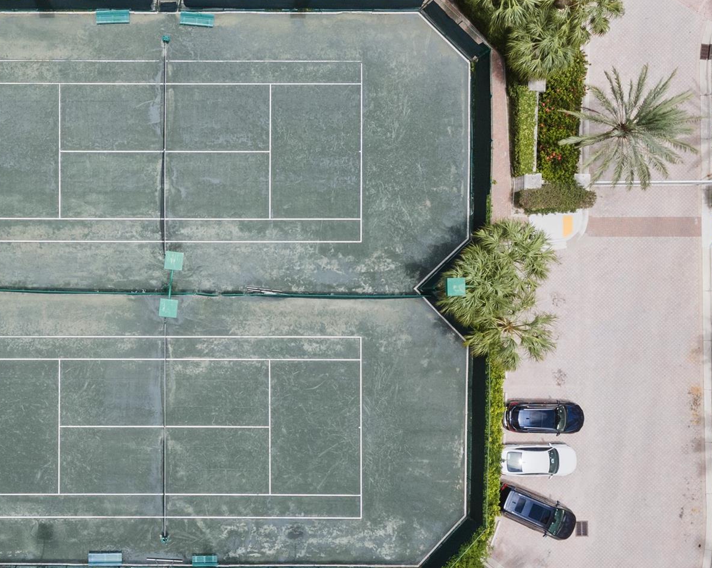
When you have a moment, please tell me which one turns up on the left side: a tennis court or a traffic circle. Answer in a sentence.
The feature located on the left side is a tennis court.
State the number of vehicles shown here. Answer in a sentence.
The number of vehicles here is 3.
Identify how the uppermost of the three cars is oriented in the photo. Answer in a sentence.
The uppermost of the three cars runs from side to side in the image.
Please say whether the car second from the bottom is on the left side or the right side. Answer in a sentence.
The car second from the bottom appears in the right half of the scene.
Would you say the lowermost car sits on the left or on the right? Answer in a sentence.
The lowermost car appears in the right half of the scene.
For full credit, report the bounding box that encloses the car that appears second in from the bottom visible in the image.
[497,442,576,480]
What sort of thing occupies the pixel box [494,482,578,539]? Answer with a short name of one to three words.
car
